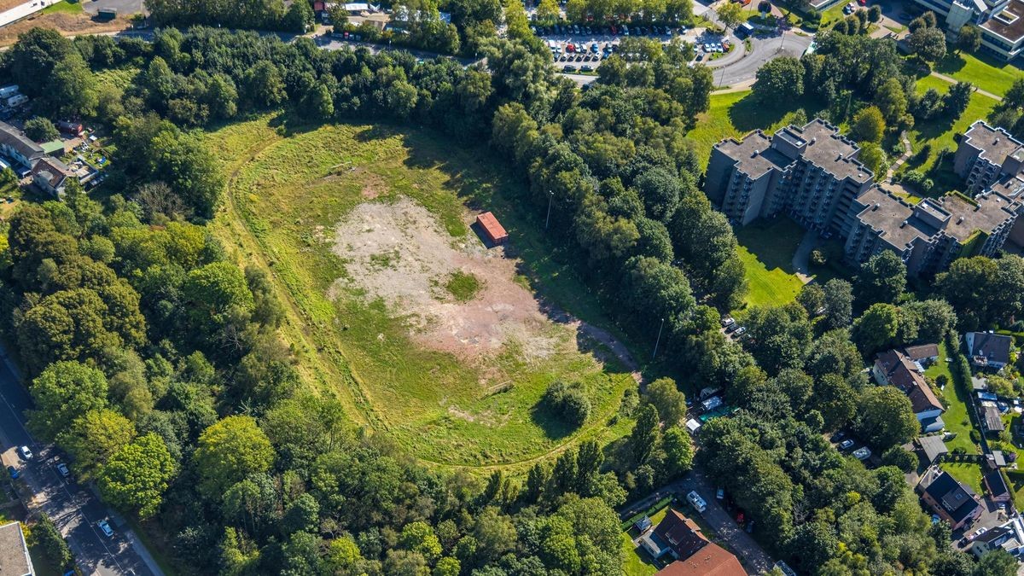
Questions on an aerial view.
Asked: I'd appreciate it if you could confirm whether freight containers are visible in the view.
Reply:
Yes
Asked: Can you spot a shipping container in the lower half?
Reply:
No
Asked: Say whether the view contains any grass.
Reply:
Yes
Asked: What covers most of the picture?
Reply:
trees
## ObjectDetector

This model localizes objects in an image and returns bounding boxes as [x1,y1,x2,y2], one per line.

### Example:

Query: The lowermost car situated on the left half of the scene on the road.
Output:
[98,520,112,537]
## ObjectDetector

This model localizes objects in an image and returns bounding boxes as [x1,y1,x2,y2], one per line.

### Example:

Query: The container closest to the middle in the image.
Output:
[477,212,508,245]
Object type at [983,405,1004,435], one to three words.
shed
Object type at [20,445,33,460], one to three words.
vehicle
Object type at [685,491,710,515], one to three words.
vehicle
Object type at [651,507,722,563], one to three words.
house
